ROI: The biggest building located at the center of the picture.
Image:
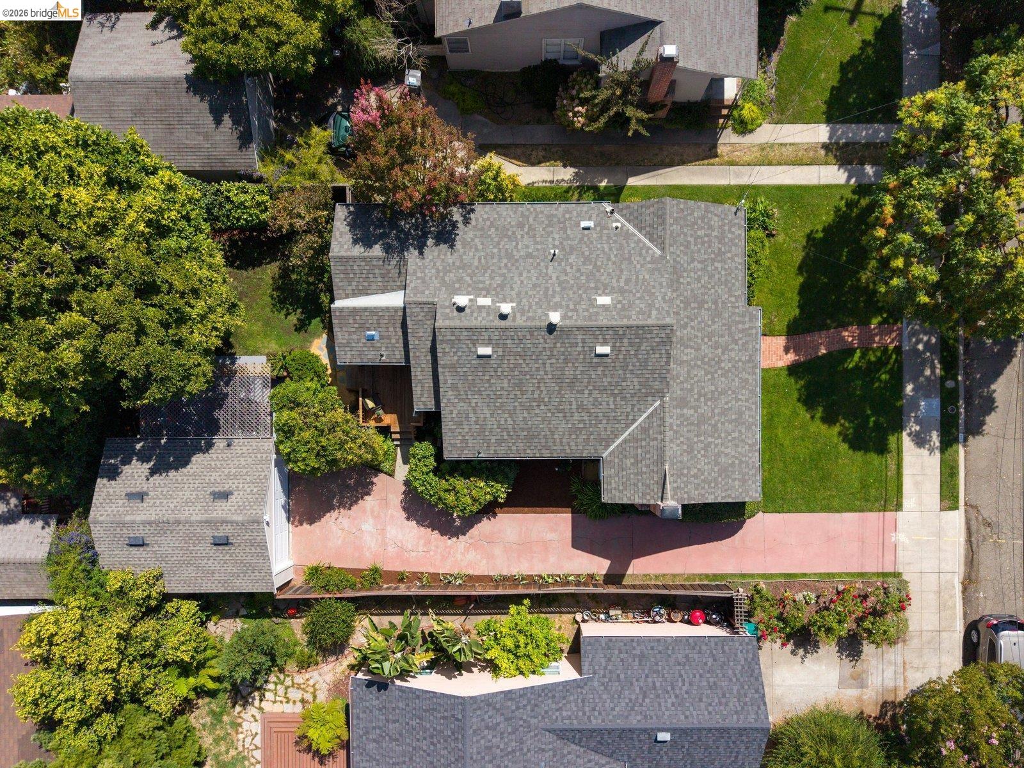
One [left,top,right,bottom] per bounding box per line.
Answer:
[328,196,765,524]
